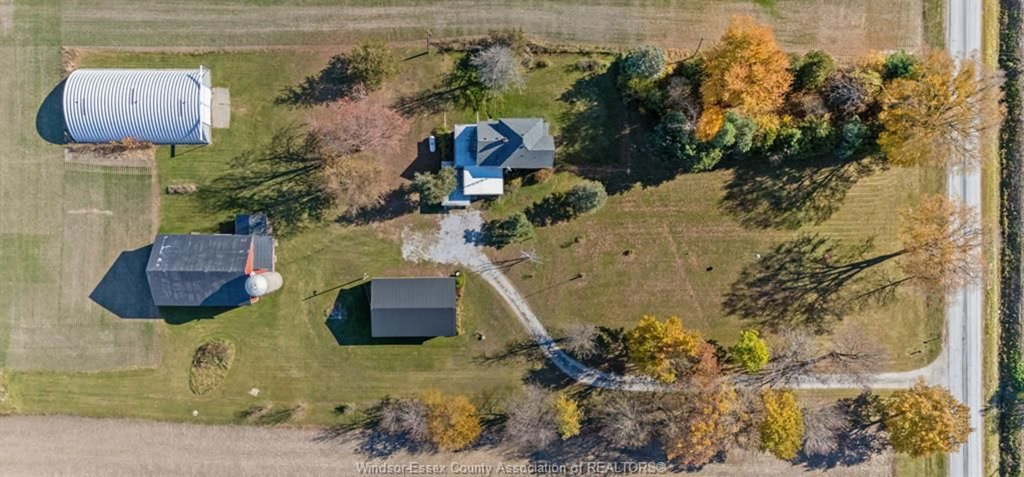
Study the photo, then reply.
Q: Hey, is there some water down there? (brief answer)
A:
No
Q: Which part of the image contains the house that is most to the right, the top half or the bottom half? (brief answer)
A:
top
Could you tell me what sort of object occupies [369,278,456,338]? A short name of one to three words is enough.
shed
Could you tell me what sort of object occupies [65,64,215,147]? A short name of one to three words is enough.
building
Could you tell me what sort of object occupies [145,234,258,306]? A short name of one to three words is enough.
barn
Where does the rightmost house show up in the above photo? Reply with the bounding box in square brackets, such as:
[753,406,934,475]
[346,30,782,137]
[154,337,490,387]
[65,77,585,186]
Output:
[441,119,555,206]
